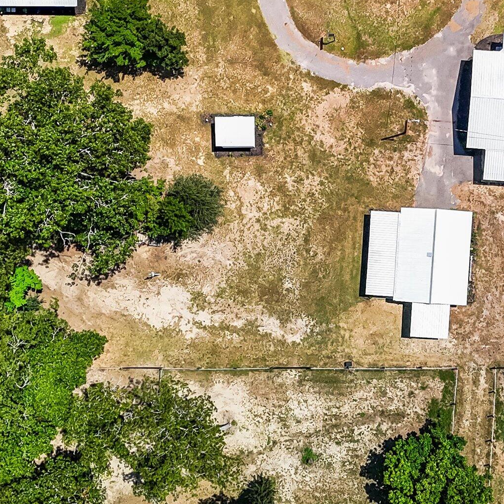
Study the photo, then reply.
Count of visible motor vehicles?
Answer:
zero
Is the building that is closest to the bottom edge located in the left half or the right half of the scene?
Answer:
right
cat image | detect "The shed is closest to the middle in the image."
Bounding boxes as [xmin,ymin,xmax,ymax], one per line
[214,116,257,148]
